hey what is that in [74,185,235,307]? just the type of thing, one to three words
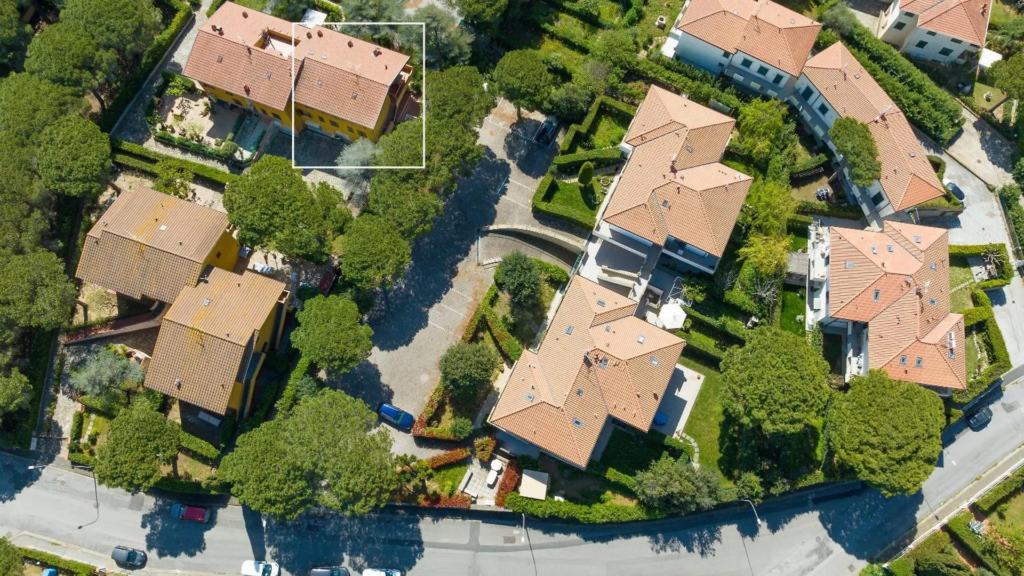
house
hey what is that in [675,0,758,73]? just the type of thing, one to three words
house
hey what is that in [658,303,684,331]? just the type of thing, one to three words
umbrella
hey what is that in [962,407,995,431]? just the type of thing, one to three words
car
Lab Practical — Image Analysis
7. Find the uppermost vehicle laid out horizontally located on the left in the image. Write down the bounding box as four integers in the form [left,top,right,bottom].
[172,503,211,523]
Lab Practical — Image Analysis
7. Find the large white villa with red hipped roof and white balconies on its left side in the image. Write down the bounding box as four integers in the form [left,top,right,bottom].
[802,219,967,395]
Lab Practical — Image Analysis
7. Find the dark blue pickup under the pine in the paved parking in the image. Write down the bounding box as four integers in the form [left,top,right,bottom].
[534,114,560,150]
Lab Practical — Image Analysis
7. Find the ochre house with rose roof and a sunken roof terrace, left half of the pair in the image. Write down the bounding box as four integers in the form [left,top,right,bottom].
[182,0,314,133]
